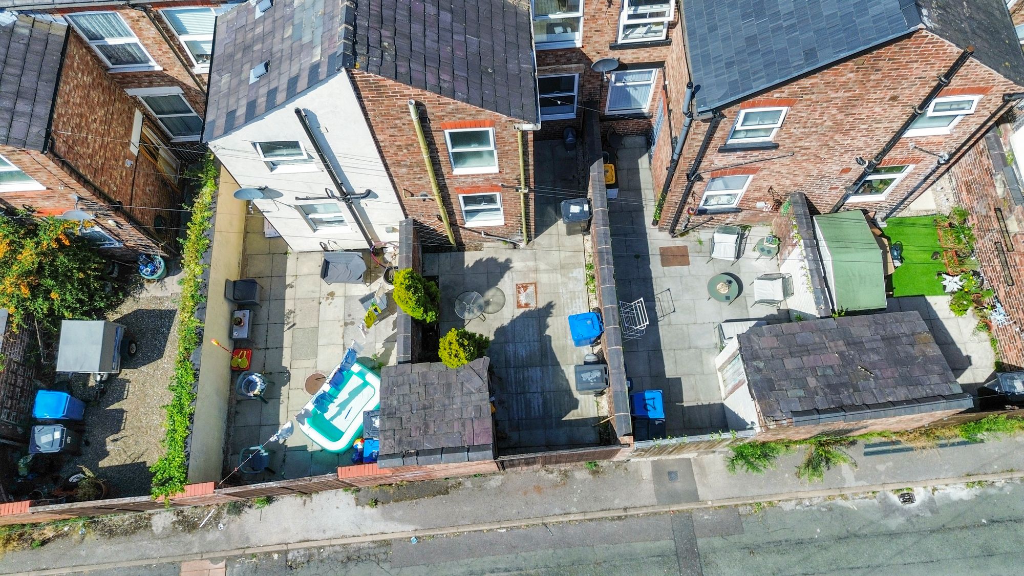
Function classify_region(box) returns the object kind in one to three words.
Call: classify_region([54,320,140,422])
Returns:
trailer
